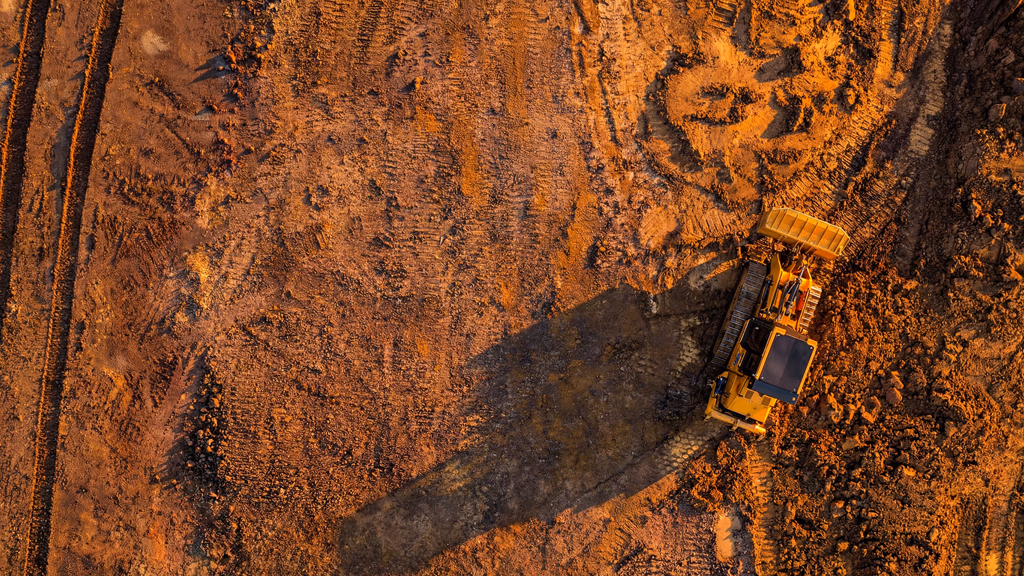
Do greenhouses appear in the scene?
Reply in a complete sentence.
No, the photo shows no greenhouse.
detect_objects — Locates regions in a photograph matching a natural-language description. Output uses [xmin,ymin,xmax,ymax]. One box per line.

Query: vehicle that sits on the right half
[698,209,847,439]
